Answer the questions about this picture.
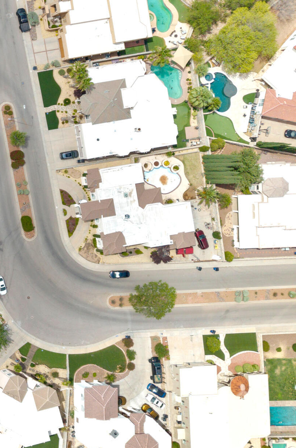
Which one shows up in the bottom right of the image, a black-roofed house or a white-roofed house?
white-roofed house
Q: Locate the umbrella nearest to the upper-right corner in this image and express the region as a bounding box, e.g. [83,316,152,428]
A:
[223,83,236,96]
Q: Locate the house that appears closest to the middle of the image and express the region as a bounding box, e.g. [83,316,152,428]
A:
[68,165,196,256]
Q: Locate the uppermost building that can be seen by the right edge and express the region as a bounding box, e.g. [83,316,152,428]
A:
[249,27,296,123]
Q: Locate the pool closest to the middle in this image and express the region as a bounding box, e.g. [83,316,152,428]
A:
[143,166,183,195]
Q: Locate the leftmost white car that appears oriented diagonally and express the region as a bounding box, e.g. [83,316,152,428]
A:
[145,393,165,410]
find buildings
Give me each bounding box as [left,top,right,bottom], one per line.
[51,0,153,62]
[68,59,178,159]
[163,358,270,448]
[65,377,171,448]
[249,27,296,123]
[0,366,64,448]
[68,165,196,256]
[225,160,296,249]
